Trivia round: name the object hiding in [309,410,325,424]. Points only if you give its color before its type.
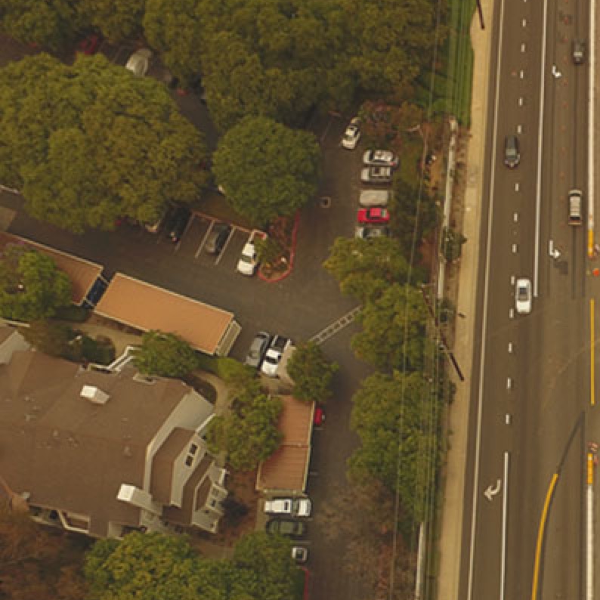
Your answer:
red car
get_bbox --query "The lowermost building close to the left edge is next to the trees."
[0,343,228,541]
